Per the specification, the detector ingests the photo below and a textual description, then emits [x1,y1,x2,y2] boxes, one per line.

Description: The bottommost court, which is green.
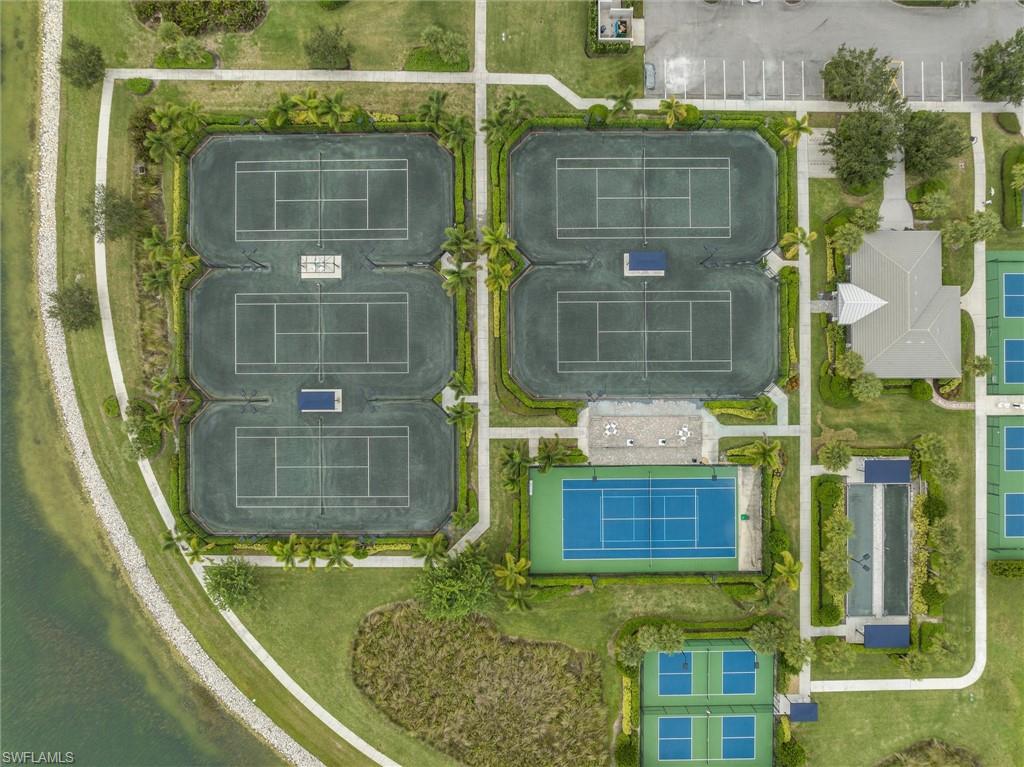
[641,706,774,767]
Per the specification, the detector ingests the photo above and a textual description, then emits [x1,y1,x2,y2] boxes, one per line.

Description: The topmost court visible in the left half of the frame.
[190,135,452,267]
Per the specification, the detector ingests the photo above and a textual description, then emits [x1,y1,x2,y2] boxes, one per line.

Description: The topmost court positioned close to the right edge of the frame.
[986,251,1024,328]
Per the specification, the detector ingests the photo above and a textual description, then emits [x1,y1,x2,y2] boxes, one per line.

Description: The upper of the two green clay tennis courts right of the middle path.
[511,132,776,265]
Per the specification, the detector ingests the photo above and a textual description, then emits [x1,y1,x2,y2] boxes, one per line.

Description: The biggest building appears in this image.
[831,231,962,379]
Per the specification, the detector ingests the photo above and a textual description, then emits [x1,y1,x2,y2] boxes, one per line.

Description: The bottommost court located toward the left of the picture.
[191,400,454,535]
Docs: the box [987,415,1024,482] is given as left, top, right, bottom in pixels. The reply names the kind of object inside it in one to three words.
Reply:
sports court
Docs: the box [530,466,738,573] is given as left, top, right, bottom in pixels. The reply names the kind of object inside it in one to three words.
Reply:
tennis court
